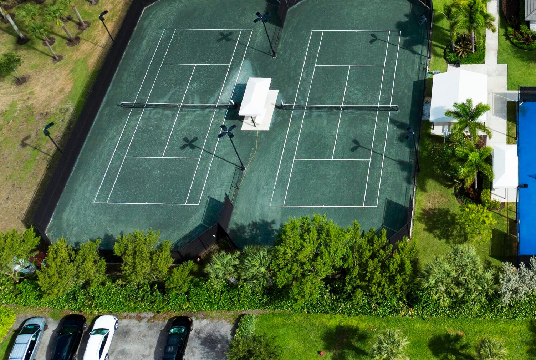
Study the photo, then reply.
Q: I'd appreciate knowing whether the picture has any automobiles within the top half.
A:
No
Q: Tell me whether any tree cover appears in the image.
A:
Yes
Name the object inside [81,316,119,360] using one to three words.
car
